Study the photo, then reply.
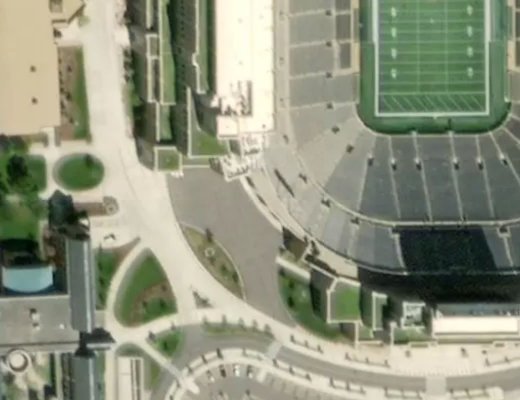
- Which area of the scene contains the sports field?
top right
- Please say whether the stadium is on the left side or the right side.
right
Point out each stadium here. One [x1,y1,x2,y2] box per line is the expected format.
[233,0,520,281]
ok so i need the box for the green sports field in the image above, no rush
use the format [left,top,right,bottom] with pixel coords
[359,0,507,134]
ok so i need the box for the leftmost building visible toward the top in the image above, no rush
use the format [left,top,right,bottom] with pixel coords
[0,0,60,134]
